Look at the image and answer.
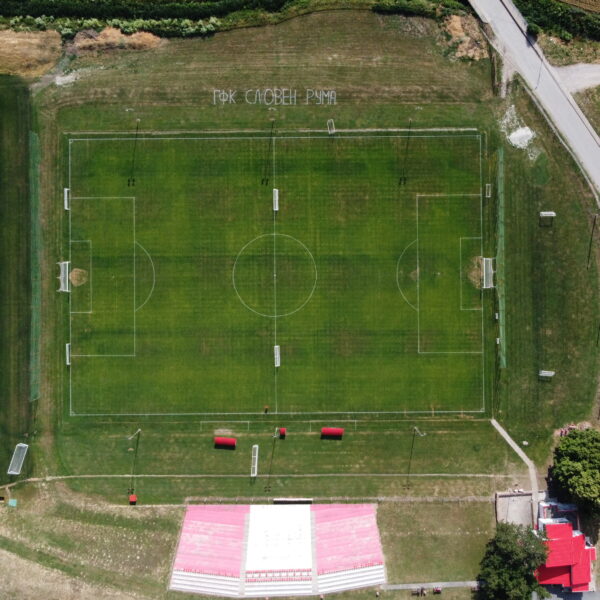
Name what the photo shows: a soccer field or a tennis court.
soccer field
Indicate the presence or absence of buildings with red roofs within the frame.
Yes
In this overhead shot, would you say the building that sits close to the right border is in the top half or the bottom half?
bottom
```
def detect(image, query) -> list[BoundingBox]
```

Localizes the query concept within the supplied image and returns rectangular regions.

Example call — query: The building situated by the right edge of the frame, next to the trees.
[534,502,596,592]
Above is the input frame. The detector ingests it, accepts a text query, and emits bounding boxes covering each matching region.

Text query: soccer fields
[63,129,490,431]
